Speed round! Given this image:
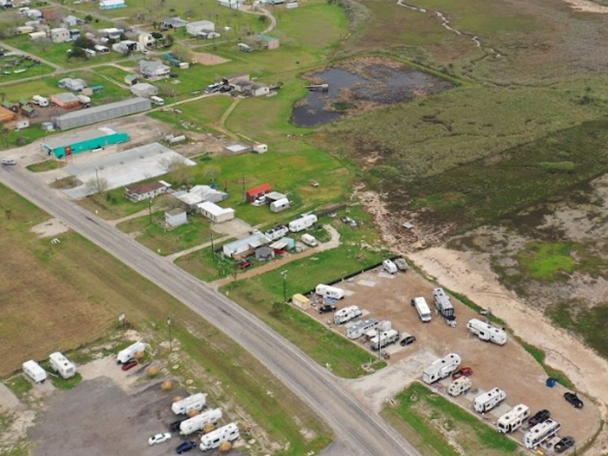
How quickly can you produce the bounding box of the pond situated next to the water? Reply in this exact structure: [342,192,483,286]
[291,57,450,127]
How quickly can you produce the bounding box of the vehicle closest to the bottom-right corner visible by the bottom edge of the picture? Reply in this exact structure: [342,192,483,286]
[553,435,576,454]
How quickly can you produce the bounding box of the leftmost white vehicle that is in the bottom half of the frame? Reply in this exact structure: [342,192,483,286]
[23,357,46,382]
